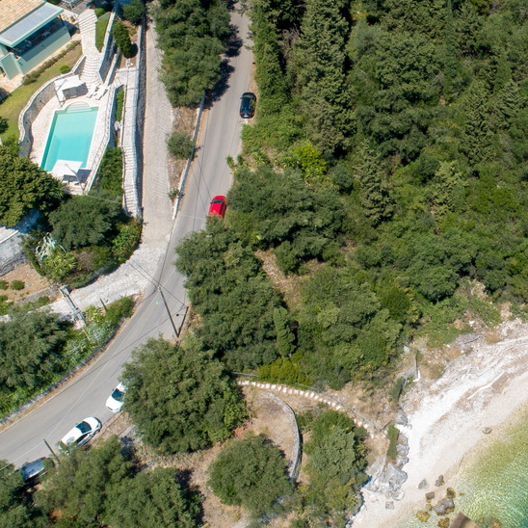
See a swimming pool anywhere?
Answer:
Yes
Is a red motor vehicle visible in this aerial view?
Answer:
Yes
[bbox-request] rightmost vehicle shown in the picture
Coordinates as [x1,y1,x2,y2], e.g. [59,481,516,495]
[237,89,256,113]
